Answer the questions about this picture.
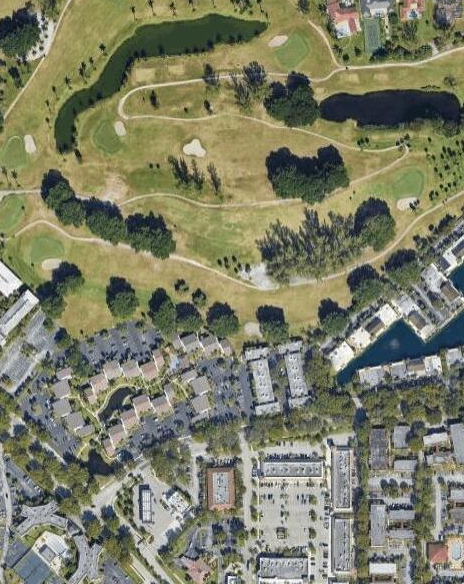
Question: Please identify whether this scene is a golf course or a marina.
golf course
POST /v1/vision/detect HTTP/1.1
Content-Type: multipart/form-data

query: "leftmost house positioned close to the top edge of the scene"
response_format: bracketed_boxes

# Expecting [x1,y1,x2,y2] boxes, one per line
[327,0,360,31]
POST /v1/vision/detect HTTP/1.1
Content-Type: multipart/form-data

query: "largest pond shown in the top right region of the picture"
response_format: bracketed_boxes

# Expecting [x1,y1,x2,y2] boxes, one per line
[322,91,460,126]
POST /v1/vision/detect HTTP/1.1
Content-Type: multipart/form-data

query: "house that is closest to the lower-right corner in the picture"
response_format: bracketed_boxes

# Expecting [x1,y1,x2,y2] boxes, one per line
[429,542,449,564]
